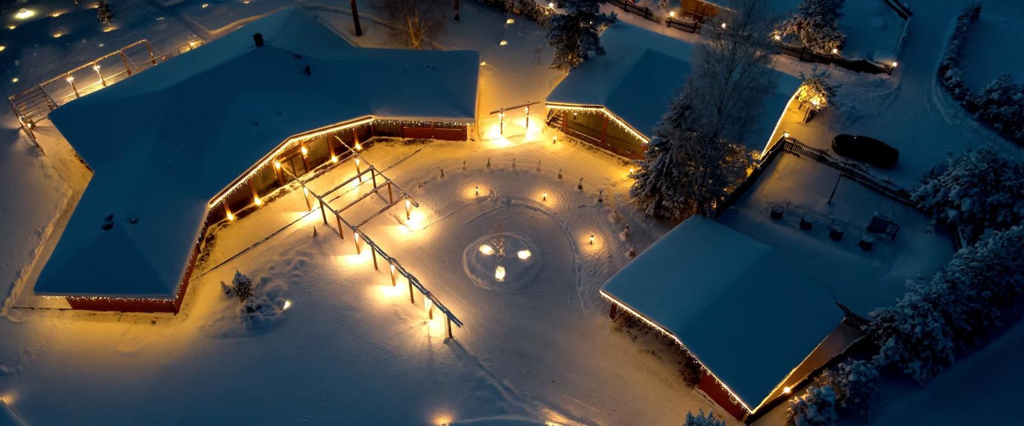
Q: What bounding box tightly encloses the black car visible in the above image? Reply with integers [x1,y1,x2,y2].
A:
[834,135,905,173]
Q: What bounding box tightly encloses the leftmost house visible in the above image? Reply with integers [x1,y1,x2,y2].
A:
[36,8,479,312]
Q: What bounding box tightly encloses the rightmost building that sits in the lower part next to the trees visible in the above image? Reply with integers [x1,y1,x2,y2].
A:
[599,217,844,423]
